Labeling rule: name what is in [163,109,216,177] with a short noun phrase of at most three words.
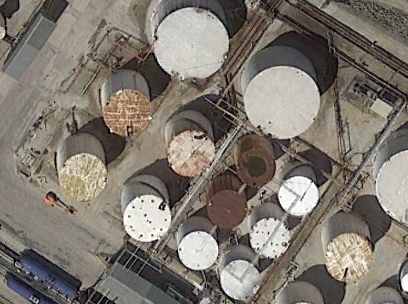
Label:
storage tank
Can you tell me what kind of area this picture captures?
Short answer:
industrial area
